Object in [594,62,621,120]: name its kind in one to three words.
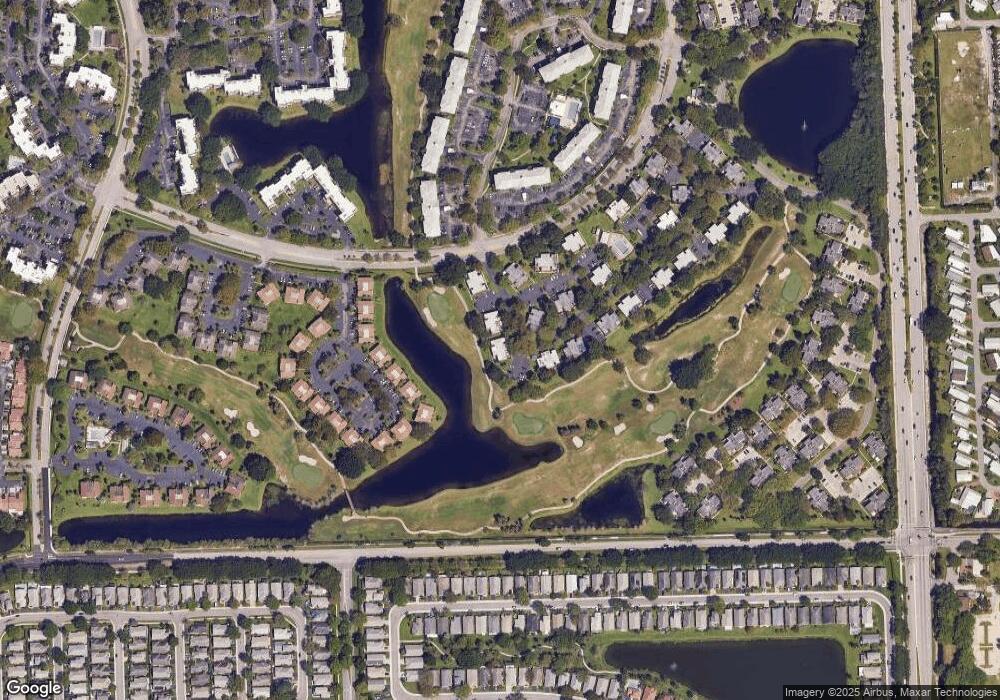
building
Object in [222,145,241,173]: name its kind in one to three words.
swimming pool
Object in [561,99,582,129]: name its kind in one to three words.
swimming pool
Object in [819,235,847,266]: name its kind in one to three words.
house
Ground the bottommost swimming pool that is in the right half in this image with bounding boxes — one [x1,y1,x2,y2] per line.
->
[607,232,633,260]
